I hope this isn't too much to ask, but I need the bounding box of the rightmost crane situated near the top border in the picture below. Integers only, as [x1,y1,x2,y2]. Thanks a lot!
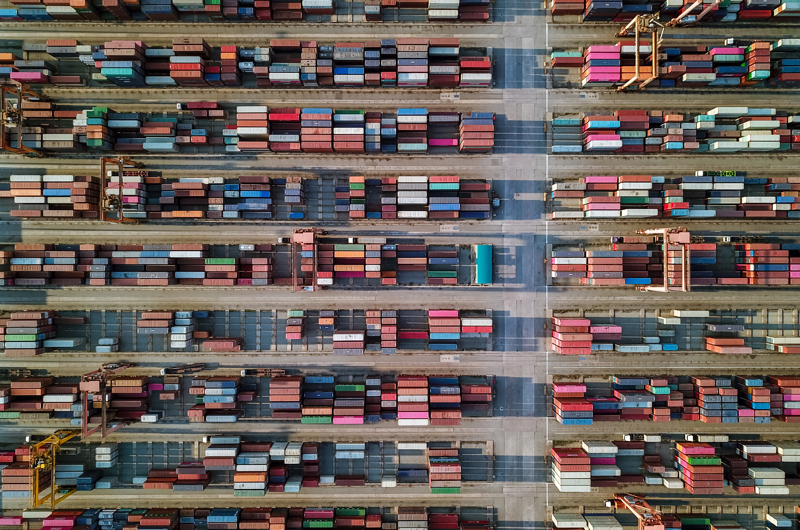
[661,0,723,28]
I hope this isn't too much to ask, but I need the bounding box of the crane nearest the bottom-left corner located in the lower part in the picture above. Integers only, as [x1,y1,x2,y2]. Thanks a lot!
[32,427,91,511]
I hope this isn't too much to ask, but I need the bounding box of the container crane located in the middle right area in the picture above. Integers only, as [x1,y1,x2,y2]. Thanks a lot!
[634,227,691,294]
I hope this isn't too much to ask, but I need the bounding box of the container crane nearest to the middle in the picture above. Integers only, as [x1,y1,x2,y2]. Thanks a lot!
[292,227,329,294]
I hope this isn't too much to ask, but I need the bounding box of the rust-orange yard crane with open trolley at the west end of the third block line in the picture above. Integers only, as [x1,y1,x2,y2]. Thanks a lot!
[0,81,60,159]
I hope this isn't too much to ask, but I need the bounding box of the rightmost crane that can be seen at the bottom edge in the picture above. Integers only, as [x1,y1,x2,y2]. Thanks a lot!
[612,492,669,530]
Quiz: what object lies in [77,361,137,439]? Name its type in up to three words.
container crane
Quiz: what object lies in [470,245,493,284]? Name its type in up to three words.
shed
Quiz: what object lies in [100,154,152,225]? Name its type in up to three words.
container crane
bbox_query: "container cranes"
[612,492,669,530]
[100,154,152,225]
[77,361,137,439]
[32,427,91,511]
[634,227,691,294]
[0,81,60,159]
[608,9,664,94]
[661,0,723,28]
[292,227,329,294]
